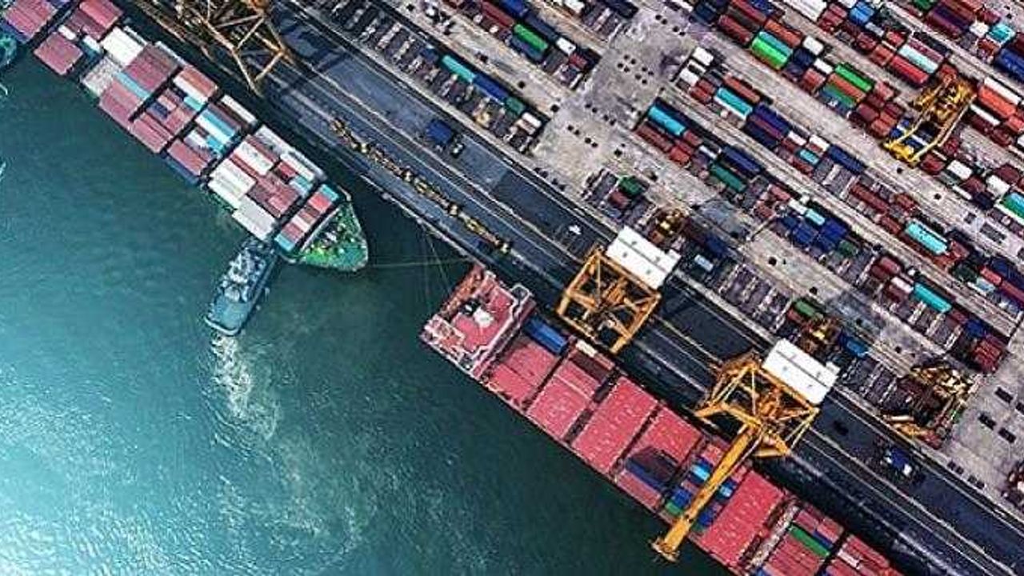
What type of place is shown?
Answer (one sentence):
This image shows a port.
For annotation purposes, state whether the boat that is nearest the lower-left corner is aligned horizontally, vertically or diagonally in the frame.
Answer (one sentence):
The boat that is nearest the lower-left corner runs diagonally in the image.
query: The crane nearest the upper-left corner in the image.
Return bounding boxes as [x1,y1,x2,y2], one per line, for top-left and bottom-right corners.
[134,0,243,56]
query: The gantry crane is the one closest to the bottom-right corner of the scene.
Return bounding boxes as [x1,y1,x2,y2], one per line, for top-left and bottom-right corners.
[881,358,985,445]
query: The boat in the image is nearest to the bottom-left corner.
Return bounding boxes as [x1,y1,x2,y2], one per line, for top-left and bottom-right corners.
[203,249,283,342]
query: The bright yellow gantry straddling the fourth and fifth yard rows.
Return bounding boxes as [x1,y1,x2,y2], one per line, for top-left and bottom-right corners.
[874,74,972,174]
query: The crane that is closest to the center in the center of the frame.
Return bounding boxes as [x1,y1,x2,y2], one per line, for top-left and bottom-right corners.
[554,205,684,357]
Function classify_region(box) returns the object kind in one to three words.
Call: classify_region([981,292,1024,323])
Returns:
shipping container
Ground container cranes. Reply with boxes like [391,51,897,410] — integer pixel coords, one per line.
[881,358,985,445]
[554,205,684,357]
[134,0,243,56]
[874,74,972,174]
[649,311,840,567]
